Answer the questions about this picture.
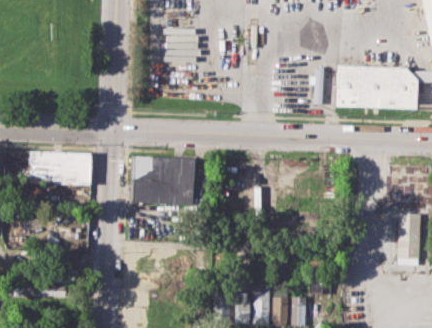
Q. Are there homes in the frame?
Yes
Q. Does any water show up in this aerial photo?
No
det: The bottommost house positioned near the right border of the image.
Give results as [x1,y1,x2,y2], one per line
[397,212,420,258]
